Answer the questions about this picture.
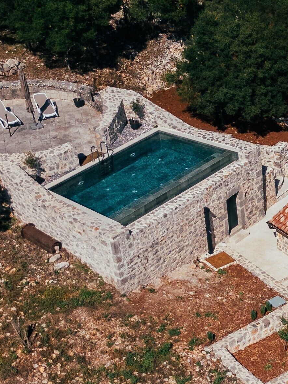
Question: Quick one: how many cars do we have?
zero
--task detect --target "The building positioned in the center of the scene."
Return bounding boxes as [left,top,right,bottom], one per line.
[0,144,266,308]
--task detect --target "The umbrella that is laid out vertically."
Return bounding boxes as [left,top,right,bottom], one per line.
[23,76,43,127]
